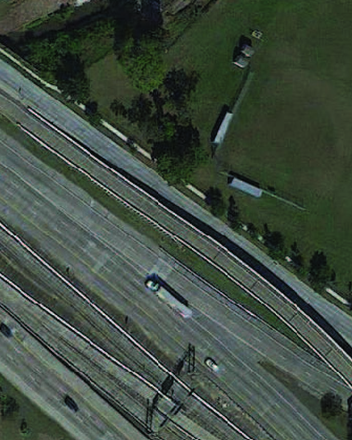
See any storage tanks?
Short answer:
No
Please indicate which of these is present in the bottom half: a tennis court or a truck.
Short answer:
truck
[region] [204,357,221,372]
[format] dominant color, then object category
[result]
white vehicle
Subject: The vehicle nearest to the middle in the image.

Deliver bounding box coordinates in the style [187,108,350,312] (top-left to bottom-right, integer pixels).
[145,279,193,318]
